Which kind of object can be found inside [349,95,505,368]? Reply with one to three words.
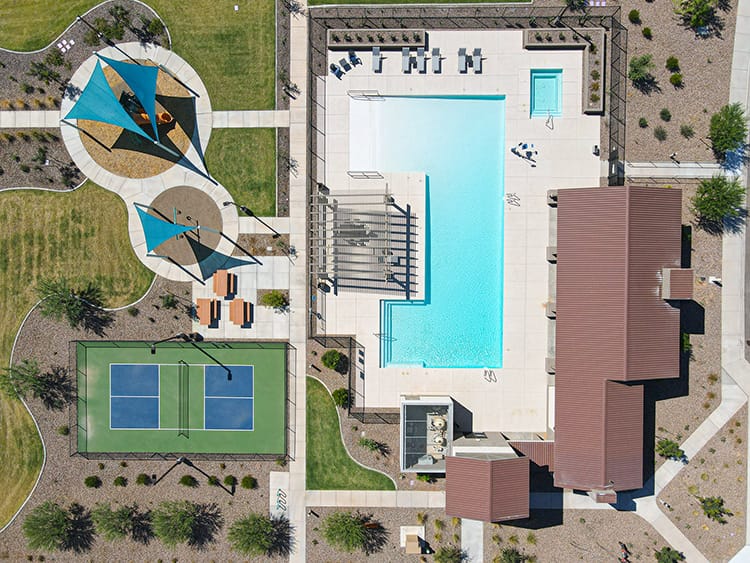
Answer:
swimming pool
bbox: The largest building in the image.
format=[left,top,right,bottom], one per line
[547,185,692,503]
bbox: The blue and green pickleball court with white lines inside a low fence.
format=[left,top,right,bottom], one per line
[77,341,286,454]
